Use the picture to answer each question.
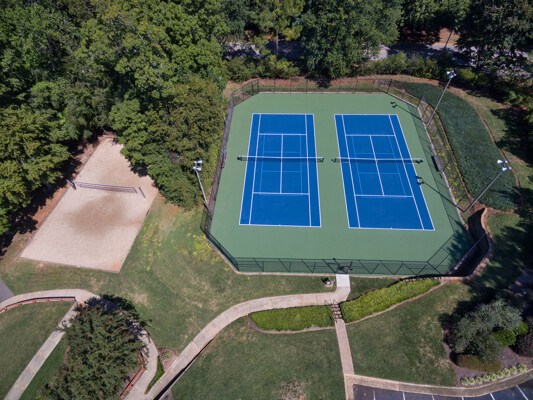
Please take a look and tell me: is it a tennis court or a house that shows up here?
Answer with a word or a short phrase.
tennis court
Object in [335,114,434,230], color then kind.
blue tennis court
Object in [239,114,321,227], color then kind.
blue tennis court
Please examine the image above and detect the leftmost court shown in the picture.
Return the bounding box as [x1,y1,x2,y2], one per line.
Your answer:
[20,134,176,272]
